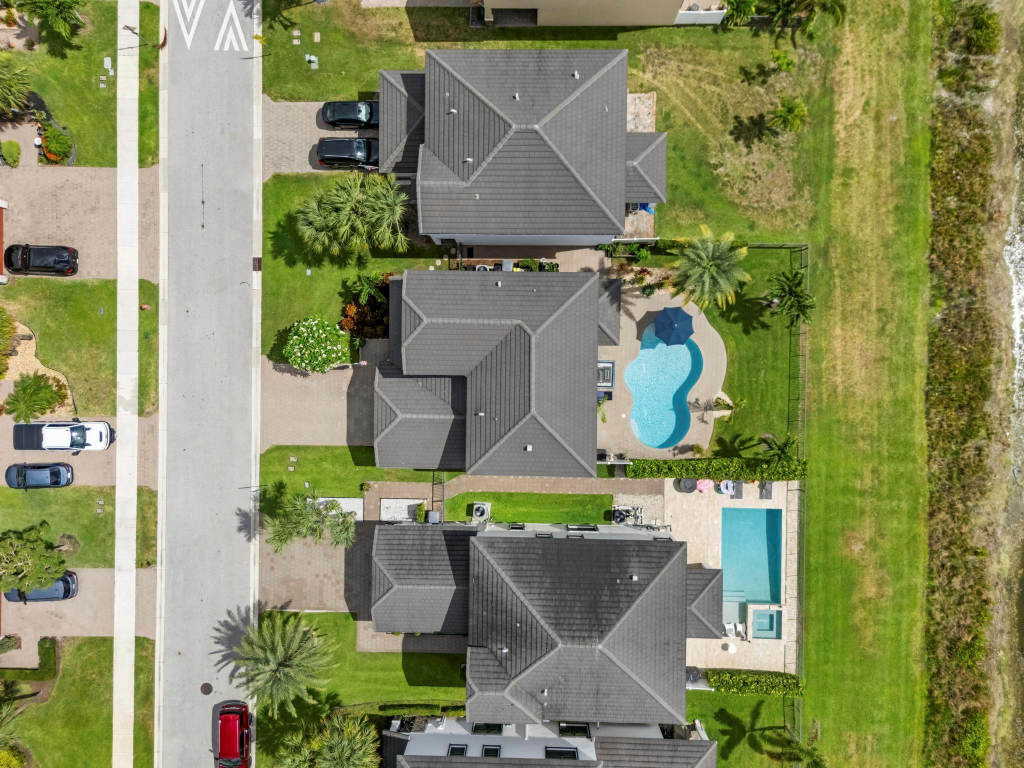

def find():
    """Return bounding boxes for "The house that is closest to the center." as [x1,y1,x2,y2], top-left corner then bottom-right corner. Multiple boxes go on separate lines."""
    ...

[371,269,622,479]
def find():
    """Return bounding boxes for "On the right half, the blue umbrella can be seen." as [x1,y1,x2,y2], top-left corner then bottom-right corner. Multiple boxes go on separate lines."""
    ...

[652,305,695,348]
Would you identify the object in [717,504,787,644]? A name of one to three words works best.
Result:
swimming pool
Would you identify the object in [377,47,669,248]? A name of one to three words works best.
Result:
house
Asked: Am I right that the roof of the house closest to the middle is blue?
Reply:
No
